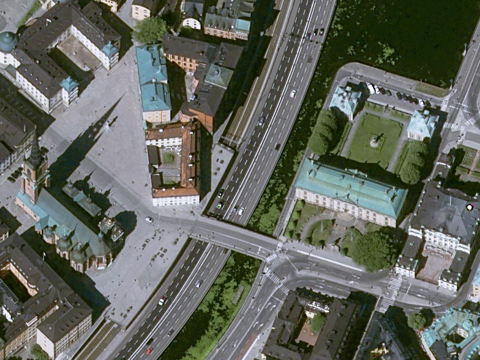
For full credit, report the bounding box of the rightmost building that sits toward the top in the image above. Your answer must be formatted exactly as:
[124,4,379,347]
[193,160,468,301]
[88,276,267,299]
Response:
[405,102,440,145]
